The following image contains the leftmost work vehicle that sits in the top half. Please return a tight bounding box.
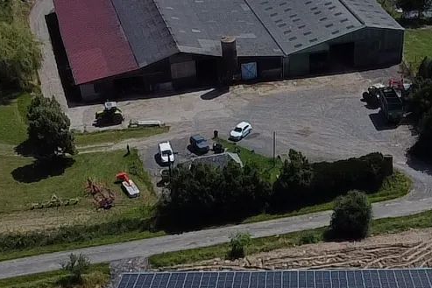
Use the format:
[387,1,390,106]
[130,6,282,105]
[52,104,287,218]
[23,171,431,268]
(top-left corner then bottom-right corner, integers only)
[93,102,124,122]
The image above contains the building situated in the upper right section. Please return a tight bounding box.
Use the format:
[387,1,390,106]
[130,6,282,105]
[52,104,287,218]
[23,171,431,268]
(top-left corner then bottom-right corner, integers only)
[235,0,407,73]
